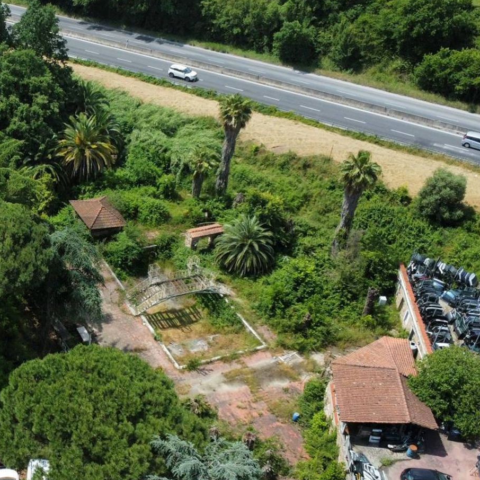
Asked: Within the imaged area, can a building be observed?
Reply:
Yes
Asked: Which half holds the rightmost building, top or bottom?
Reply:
bottom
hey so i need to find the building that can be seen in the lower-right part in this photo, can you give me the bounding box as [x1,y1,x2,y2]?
[322,335,437,451]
